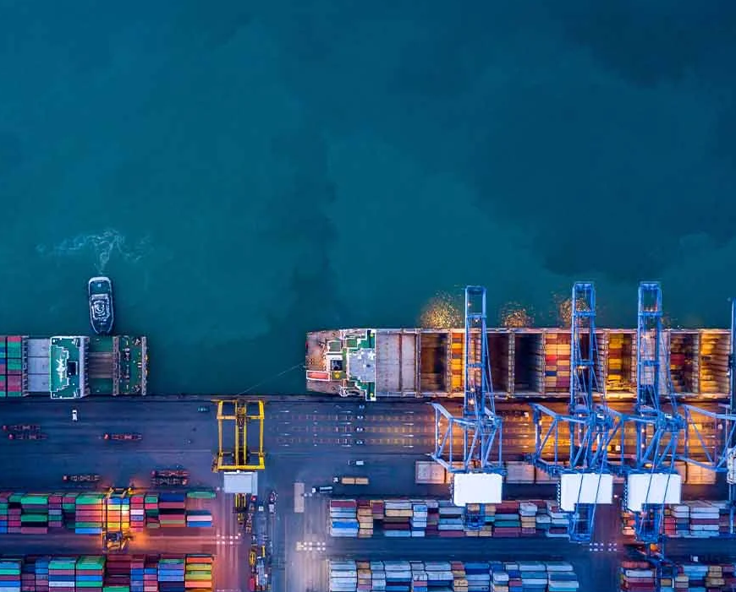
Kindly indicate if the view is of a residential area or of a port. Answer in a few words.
port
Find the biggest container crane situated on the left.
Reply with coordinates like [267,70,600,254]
[213,401,267,520]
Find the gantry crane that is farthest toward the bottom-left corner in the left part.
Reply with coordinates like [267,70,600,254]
[102,484,135,553]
